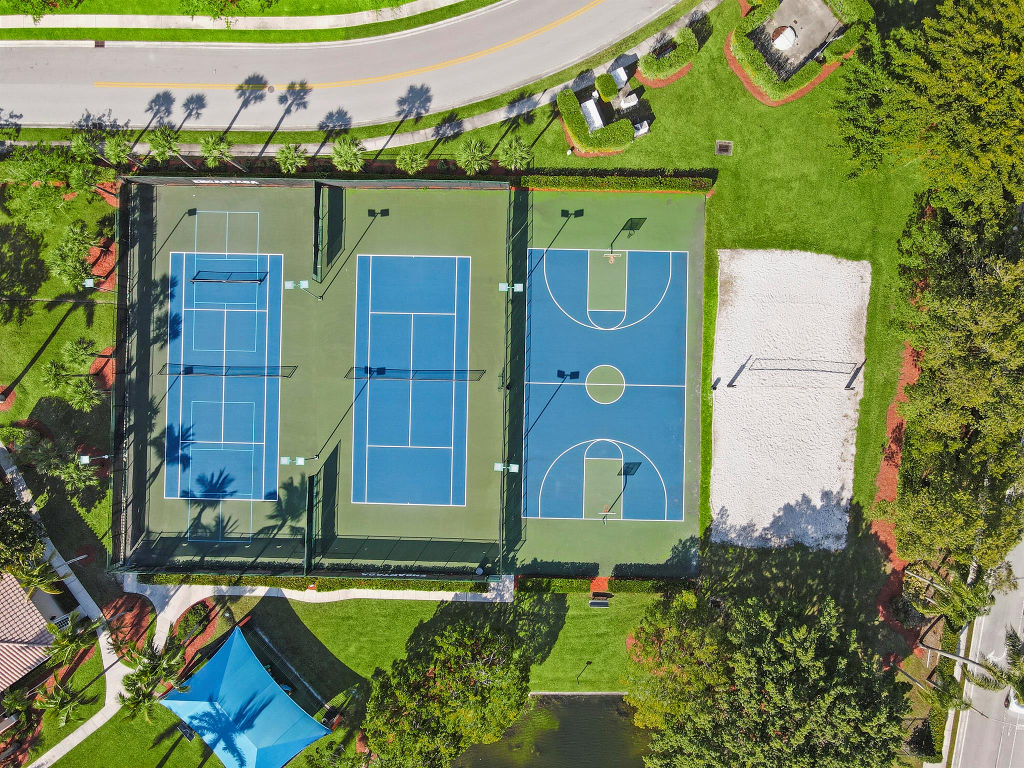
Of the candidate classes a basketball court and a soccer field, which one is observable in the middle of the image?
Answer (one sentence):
The one visible in the middle of the image is a basketball court.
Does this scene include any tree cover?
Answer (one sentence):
Yes, there is tree cover in the image.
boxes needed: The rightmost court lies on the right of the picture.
[708,248,872,550]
